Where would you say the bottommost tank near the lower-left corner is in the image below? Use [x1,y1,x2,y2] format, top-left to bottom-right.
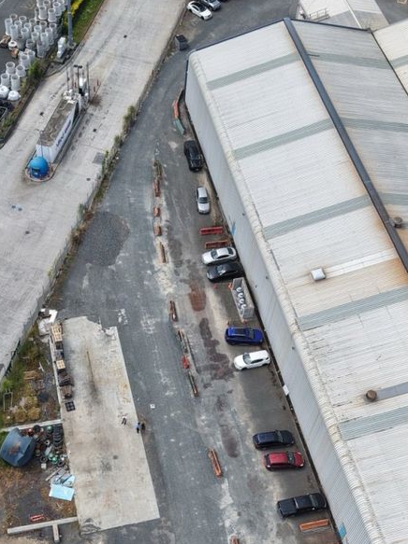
[0,435,34,472]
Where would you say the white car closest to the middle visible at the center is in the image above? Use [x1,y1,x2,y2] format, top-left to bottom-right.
[201,246,238,266]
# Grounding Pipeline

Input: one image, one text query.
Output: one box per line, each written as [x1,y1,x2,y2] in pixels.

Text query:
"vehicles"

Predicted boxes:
[187,1,213,19]
[265,451,304,471]
[253,428,296,448]
[226,325,263,345]
[234,349,271,370]
[207,263,244,283]
[277,492,326,517]
[195,186,211,212]
[201,246,238,266]
[186,141,203,168]
[200,0,221,9]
